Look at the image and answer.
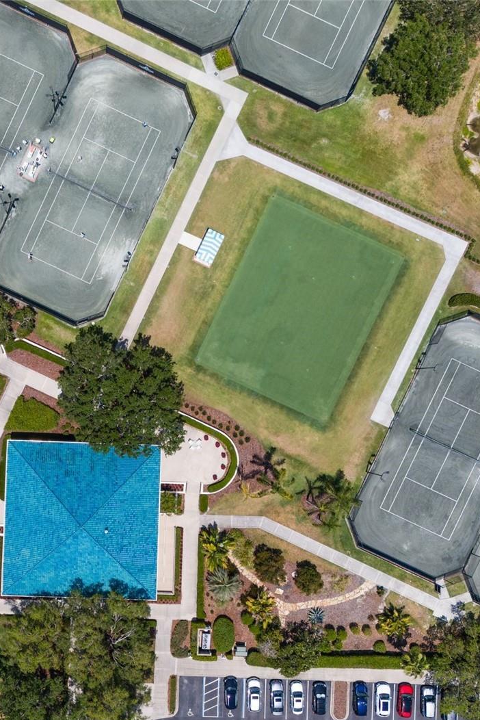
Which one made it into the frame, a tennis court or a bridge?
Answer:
tennis court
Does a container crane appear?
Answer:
No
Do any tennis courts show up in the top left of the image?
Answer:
Yes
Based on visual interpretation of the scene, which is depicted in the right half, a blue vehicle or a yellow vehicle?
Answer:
blue vehicle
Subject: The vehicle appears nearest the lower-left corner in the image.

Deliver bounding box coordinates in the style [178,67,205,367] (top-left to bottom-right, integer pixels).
[222,675,239,711]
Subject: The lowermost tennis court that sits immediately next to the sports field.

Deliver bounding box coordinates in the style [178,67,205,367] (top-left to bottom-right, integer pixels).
[347,316,480,584]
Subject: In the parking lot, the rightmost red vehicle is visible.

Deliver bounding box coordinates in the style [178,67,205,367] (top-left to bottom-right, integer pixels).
[398,684,415,716]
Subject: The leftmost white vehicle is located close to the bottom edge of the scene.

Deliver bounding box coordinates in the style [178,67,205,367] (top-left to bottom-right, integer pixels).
[246,677,263,714]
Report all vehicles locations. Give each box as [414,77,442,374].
[269,679,285,715]
[222,675,239,711]
[420,683,439,719]
[290,679,306,715]
[353,680,370,717]
[311,680,329,717]
[375,681,393,718]
[398,684,415,716]
[246,677,263,714]
[443,696,461,720]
